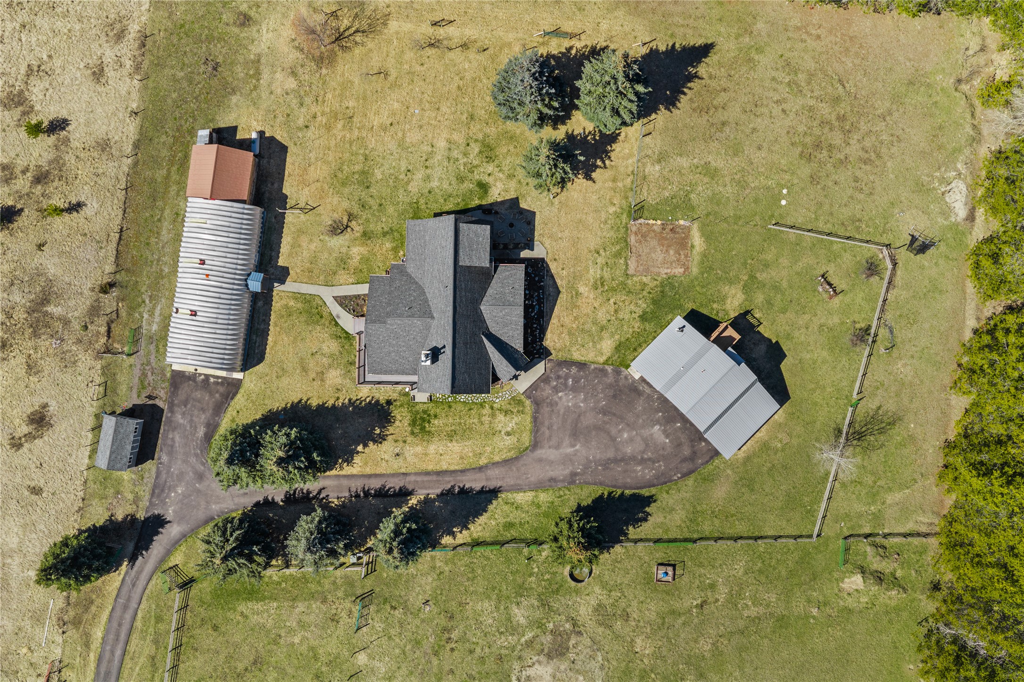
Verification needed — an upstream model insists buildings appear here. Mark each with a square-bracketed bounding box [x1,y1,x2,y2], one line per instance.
[163,197,268,373]
[366,214,529,394]
[633,315,780,458]
[94,414,143,472]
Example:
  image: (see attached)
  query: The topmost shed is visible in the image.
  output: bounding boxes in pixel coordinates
[189,143,269,204]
